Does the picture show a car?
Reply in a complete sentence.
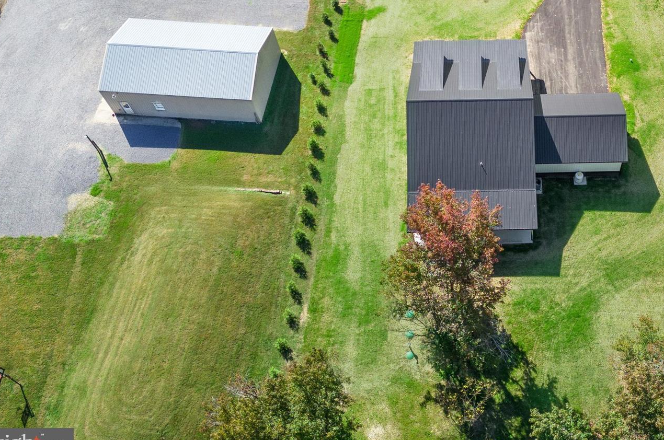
No, there isn't any car down there.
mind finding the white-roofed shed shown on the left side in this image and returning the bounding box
[96,19,281,126]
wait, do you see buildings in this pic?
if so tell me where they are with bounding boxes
[406,40,628,244]
[96,19,281,126]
